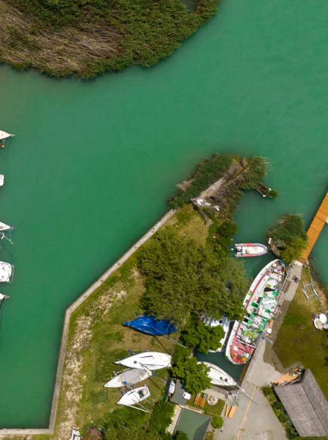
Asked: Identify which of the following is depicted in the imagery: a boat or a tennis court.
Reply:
boat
